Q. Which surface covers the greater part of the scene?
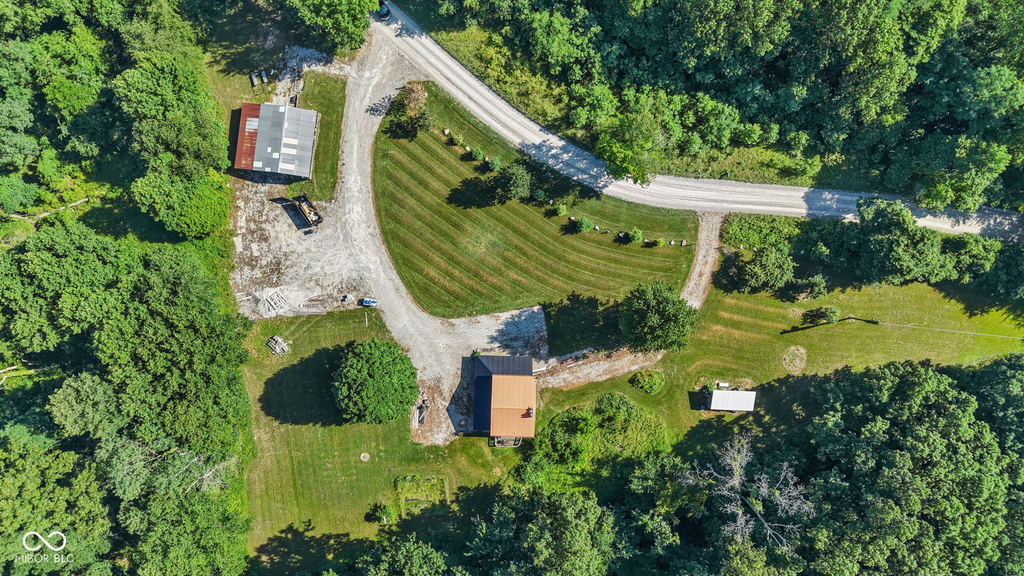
trees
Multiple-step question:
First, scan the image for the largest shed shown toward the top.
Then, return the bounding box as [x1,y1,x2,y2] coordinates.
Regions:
[235,103,320,179]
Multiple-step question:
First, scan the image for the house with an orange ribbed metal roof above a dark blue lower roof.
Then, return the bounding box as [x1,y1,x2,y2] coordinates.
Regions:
[473,355,536,438]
